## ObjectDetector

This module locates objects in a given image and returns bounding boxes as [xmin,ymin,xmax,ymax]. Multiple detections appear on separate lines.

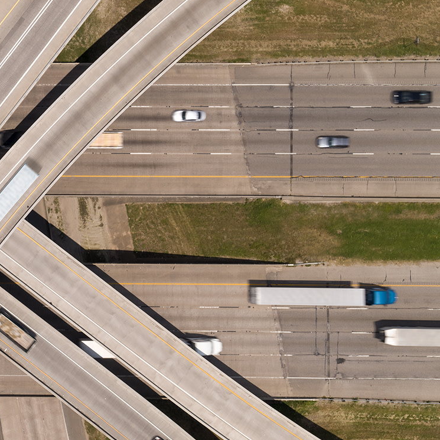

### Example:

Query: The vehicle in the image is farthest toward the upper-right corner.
[392,90,431,104]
